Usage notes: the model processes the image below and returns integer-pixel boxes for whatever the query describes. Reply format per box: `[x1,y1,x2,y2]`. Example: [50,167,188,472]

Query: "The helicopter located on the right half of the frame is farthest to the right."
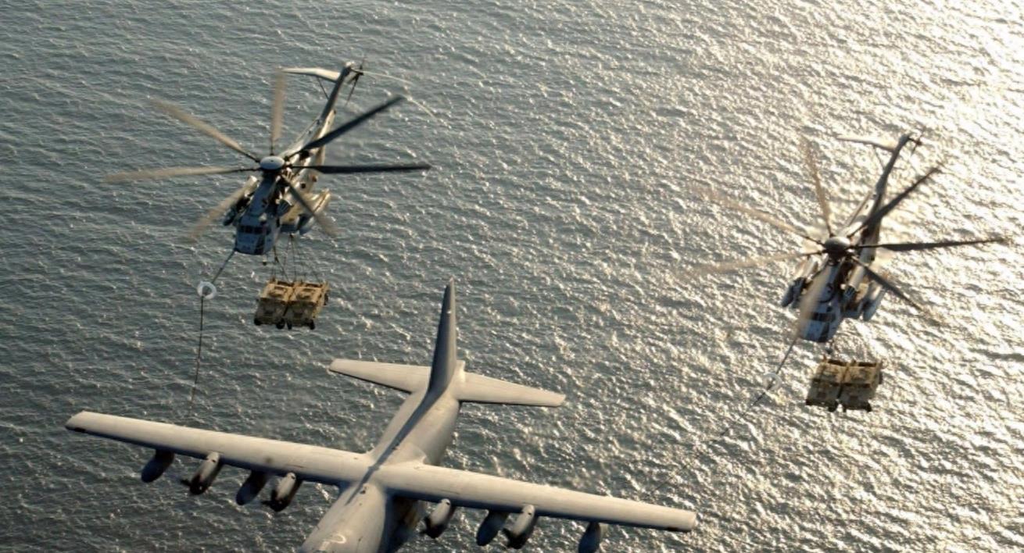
[678,112,1006,383]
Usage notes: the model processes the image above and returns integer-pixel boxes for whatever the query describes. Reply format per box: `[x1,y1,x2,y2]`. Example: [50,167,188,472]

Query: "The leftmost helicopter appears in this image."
[109,42,434,293]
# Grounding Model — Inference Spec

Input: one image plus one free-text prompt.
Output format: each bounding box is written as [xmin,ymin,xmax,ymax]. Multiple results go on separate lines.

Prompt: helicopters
[109,42,434,293]
[678,112,1006,383]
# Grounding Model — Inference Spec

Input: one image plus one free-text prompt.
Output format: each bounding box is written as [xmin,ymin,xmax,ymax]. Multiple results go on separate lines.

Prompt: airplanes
[68,273,702,553]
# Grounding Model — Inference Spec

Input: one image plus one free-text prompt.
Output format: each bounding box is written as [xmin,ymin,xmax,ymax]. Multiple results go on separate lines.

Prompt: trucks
[284,278,329,327]
[256,274,299,325]
[808,355,852,406]
[837,358,881,410]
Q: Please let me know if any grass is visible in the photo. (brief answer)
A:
No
